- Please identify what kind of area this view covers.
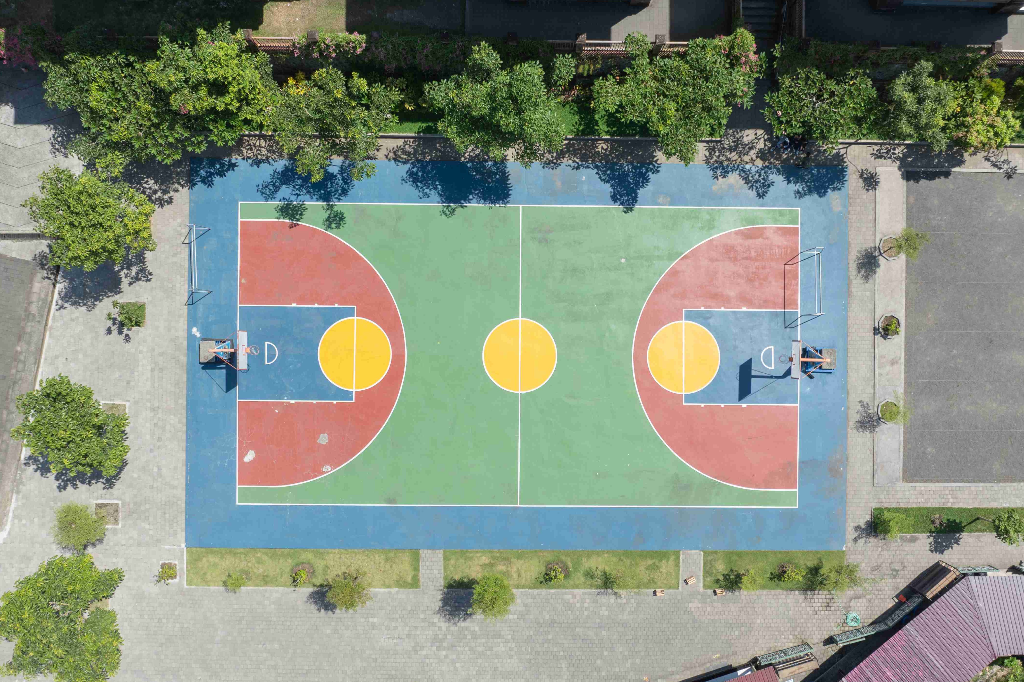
sports ground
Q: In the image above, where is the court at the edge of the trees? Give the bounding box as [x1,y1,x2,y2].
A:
[185,158,848,551]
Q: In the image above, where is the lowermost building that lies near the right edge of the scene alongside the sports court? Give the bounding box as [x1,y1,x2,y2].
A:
[845,576,1024,682]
